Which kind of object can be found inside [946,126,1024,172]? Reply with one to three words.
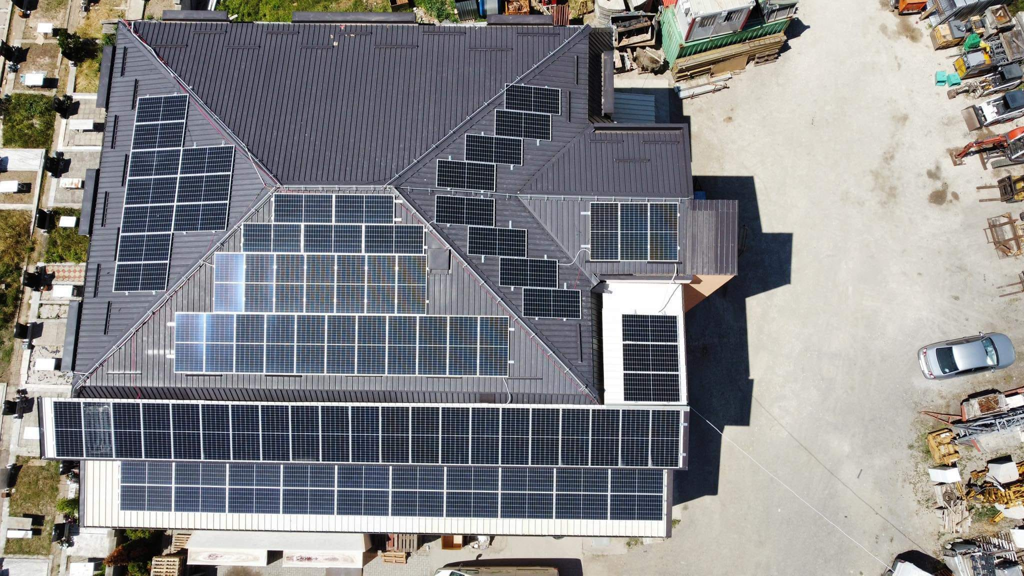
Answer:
work vehicle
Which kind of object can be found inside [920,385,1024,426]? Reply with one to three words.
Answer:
trailer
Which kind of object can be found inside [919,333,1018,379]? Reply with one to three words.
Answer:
car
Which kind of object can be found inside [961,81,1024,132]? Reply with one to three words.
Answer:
work vehicle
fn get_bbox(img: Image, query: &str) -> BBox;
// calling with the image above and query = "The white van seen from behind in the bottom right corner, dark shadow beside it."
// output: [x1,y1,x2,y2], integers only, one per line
[864,547,928,576]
